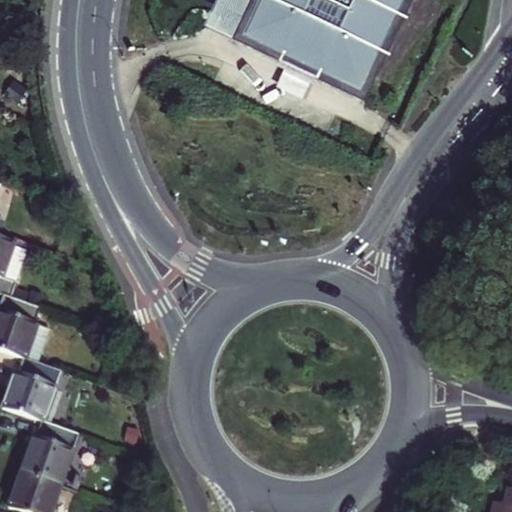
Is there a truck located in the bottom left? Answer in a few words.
No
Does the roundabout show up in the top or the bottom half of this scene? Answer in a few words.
bottom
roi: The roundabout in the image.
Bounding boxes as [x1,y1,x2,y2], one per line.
[152,261,428,512]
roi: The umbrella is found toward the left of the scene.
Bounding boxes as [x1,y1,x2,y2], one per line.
[81,452,95,466]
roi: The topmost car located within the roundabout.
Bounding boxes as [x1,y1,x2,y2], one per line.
[317,280,340,296]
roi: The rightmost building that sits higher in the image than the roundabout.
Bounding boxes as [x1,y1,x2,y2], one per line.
[236,0,410,98]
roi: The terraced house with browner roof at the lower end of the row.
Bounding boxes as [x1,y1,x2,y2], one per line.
[6,471,63,512]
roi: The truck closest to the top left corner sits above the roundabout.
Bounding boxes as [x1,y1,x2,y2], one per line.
[240,63,268,92]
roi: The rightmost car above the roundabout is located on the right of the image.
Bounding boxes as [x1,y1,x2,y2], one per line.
[346,236,362,256]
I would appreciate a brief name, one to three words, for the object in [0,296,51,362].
house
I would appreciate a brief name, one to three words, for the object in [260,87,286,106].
vehicle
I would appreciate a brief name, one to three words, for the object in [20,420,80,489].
house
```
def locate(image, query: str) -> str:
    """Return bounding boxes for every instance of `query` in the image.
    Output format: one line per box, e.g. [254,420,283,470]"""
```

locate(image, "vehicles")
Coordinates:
[240,63,268,92]
[346,236,362,256]
[317,280,340,296]
[342,493,356,512]
[260,87,286,106]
